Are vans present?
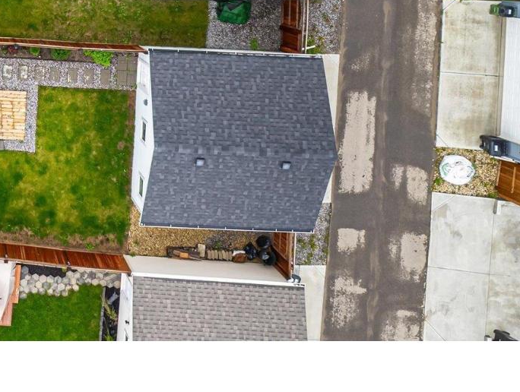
No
